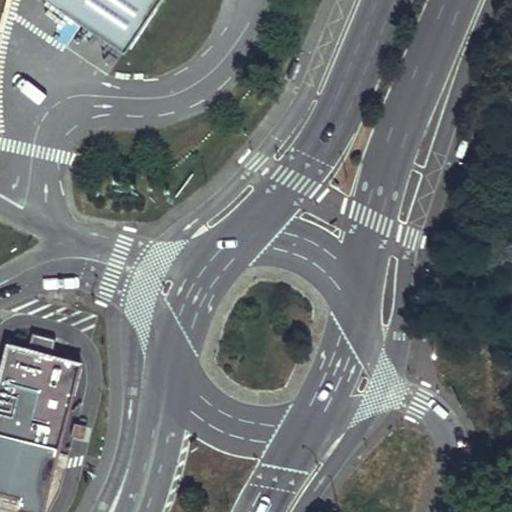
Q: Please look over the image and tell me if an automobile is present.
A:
Yes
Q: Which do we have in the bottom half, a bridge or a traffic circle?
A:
traffic circle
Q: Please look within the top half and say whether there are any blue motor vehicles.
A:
No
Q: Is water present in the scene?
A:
No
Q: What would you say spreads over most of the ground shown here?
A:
paved ground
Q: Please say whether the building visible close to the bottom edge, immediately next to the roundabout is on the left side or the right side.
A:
left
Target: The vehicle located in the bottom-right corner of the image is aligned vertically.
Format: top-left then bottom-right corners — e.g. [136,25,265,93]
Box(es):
[454,425,466,446]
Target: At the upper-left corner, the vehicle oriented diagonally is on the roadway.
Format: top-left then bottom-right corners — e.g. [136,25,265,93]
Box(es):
[13,74,48,104]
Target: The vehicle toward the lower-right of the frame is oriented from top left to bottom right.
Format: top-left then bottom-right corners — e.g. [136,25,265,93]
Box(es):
[429,400,453,422]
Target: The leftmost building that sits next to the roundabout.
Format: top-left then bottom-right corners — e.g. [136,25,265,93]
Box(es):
[0,335,82,512]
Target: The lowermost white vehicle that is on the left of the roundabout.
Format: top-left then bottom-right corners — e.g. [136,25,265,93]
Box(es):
[42,277,80,290]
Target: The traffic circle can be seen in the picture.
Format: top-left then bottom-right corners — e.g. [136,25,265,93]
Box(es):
[164,209,352,462]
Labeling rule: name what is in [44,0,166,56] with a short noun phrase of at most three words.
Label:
building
